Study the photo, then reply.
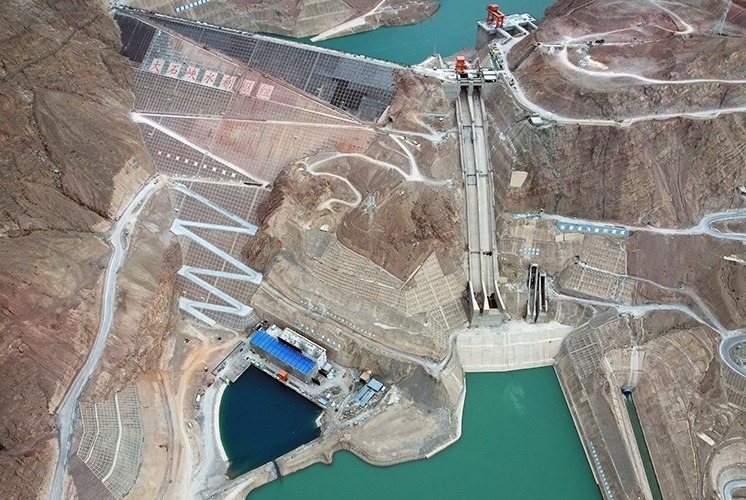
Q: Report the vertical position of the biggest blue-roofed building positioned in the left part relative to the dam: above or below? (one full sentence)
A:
From this view, the biggest blue-roofed building positioned in the left part can be seen below the dam.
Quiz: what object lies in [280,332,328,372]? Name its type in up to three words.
building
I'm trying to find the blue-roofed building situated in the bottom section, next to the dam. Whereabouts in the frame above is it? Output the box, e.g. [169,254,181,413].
[250,329,318,382]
